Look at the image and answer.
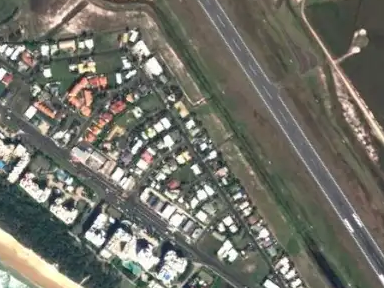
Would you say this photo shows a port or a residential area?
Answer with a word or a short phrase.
residential area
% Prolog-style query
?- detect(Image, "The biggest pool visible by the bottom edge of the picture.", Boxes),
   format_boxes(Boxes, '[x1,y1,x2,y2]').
[123,260,143,276]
